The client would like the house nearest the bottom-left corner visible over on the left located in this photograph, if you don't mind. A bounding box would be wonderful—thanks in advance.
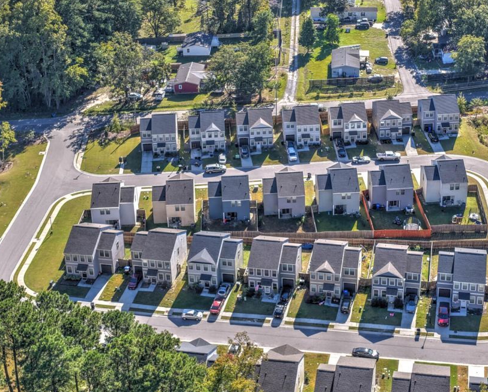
[59,223,124,279]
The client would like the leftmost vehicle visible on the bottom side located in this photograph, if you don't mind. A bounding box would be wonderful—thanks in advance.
[124,267,142,291]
